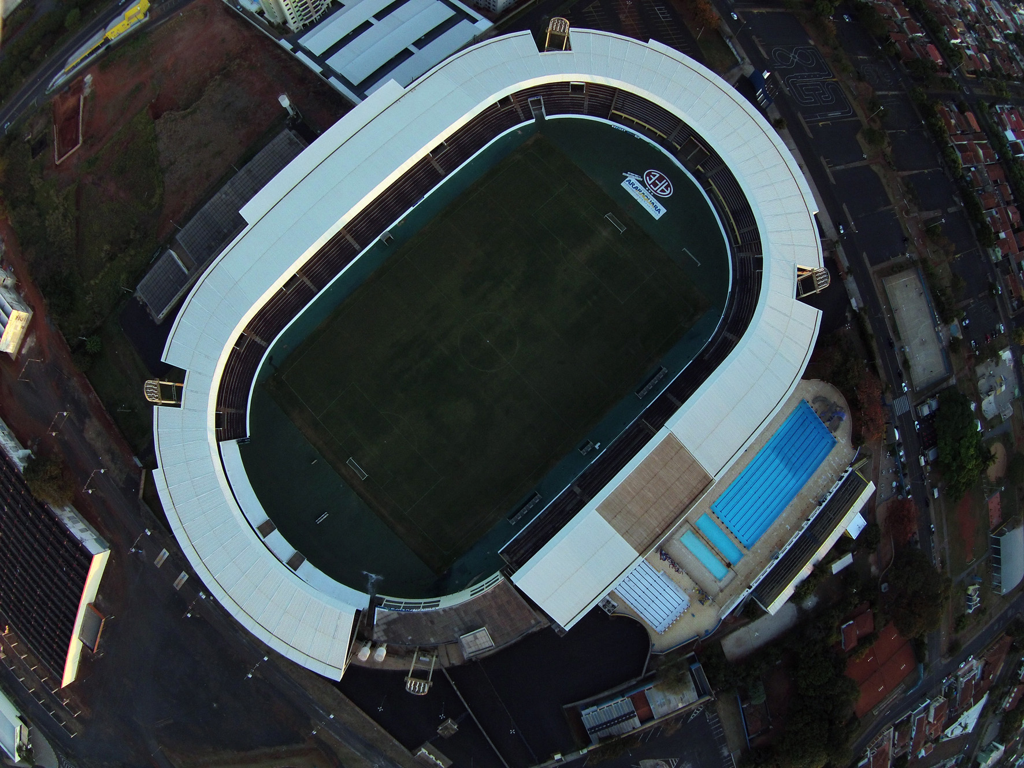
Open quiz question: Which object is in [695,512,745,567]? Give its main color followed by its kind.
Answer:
blue swimming pool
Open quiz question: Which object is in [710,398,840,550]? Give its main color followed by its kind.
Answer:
blue swimming pool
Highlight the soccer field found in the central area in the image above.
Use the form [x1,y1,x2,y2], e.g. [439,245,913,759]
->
[241,119,727,599]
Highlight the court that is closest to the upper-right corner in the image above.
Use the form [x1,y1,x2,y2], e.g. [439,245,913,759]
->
[878,268,950,392]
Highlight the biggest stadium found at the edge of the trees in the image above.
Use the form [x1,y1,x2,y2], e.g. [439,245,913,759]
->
[153,28,823,681]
